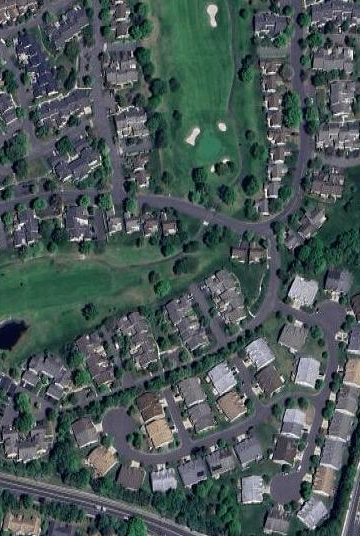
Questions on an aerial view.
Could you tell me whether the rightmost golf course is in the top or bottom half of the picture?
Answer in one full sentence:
The top half of the photo is where the rightmost golf course is.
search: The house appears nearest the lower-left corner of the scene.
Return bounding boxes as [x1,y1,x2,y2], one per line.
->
[1,513,41,536]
